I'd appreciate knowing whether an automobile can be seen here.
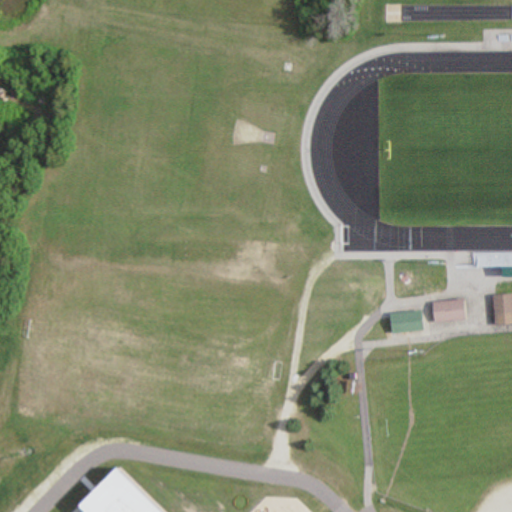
No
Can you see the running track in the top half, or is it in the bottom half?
top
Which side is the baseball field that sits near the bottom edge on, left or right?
right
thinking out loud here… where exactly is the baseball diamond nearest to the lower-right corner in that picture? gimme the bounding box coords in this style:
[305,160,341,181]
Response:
[388,334,512,512]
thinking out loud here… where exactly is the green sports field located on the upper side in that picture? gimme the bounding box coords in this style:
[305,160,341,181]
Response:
[378,72,512,228]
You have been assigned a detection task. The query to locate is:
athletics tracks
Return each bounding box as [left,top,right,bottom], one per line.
[312,50,512,251]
